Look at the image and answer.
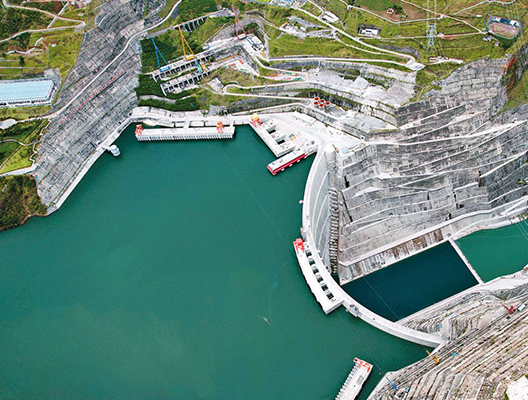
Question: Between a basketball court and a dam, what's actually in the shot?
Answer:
dam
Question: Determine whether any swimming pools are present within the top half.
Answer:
No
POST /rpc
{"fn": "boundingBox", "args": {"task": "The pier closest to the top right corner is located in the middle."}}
[268,147,318,179]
